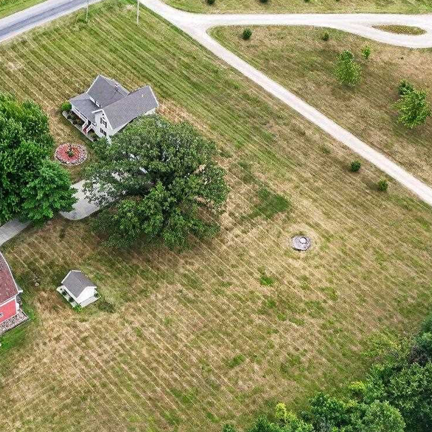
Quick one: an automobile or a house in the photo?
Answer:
house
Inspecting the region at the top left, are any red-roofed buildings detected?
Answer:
No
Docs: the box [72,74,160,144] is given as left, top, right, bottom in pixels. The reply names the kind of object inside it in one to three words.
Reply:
house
